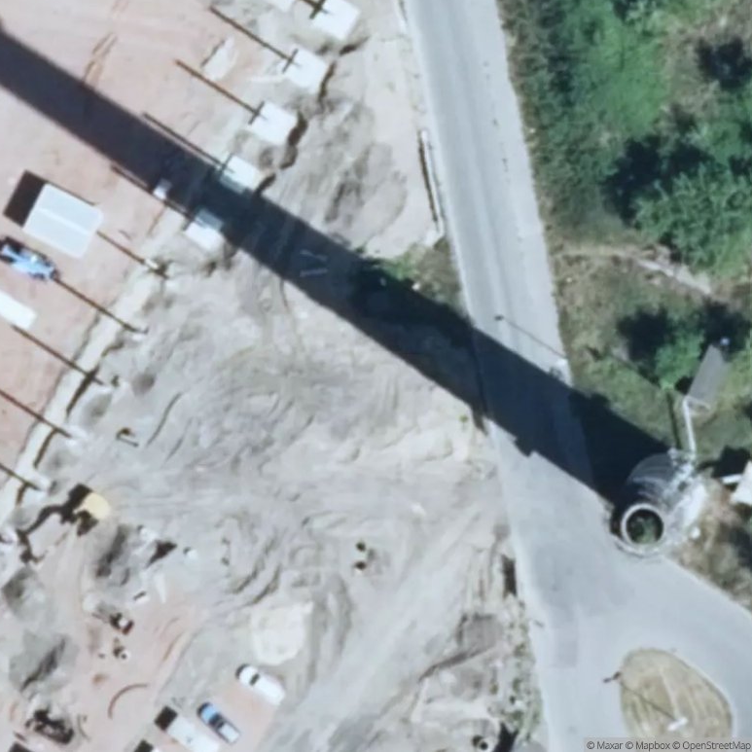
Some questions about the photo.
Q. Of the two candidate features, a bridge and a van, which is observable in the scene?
van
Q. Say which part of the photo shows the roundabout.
bottom right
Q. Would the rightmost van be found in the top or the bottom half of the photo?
bottom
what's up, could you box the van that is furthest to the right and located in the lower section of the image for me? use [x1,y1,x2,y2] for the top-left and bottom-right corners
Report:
[230,659,289,712]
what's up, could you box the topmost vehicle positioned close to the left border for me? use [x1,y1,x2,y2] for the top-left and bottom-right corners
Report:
[0,233,61,282]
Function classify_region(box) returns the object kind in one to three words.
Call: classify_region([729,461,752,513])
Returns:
building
